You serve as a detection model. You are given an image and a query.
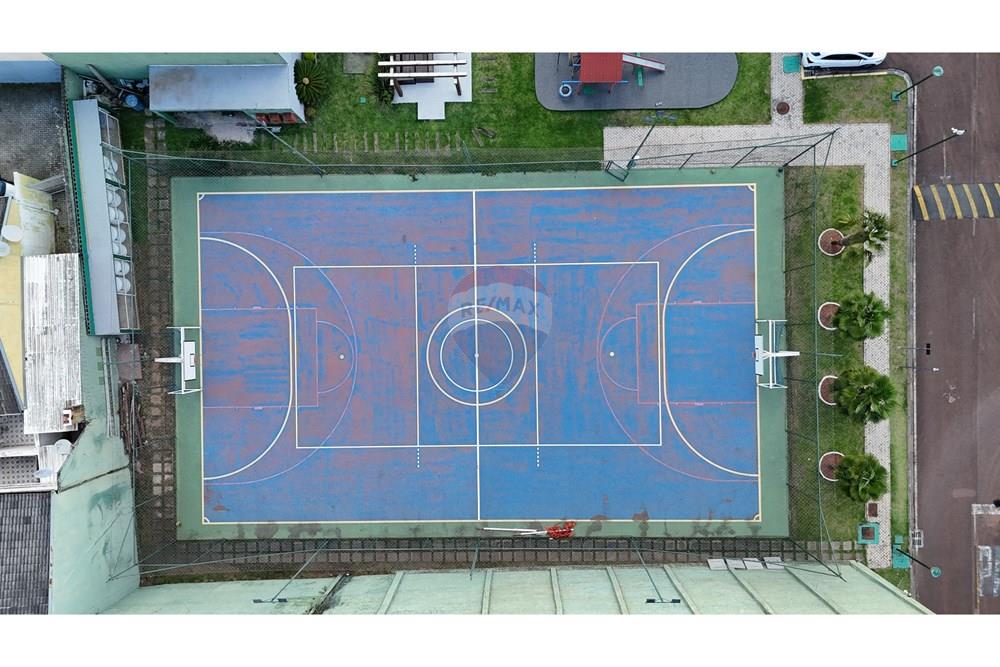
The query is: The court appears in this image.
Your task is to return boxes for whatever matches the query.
[172,167,790,540]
